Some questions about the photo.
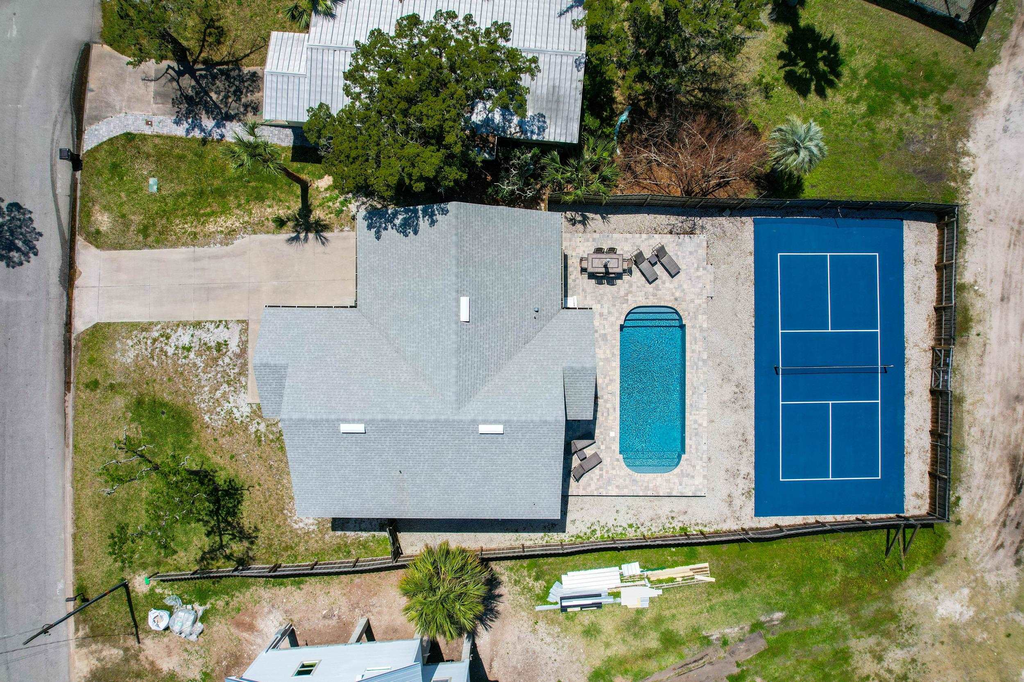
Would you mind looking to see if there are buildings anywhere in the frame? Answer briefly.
Yes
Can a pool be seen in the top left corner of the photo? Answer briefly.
No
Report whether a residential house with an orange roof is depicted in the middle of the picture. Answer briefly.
No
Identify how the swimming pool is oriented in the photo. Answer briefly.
from top to bottom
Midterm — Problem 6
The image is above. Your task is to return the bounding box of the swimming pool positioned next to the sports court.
[614,301,691,478]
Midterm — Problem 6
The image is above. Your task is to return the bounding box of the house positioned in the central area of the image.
[253,201,595,518]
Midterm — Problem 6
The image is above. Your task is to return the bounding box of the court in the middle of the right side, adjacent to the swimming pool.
[753,217,905,517]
